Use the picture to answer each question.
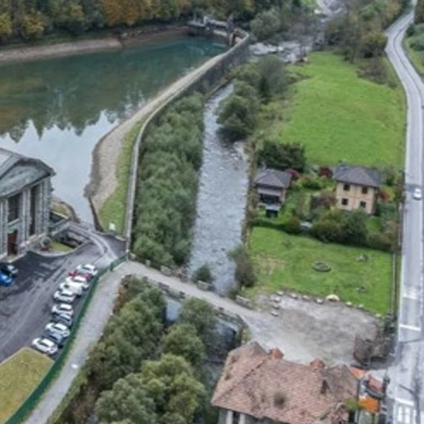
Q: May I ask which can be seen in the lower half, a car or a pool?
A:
car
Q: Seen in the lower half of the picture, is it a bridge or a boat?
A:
bridge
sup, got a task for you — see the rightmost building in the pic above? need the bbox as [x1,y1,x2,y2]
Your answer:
[338,162,383,208]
